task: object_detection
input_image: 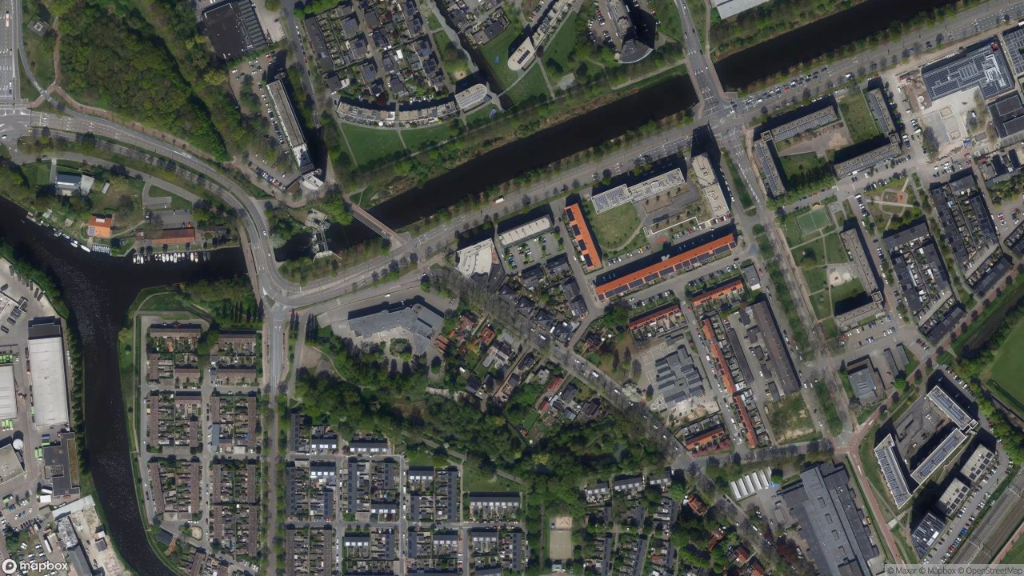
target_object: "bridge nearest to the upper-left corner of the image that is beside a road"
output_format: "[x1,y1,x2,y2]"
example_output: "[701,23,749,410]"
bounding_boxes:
[238,240,278,281]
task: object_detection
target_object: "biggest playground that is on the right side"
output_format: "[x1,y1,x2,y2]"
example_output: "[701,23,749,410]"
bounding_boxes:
[828,264,853,285]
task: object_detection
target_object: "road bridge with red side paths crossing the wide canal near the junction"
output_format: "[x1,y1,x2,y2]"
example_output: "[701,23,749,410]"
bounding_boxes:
[684,54,739,112]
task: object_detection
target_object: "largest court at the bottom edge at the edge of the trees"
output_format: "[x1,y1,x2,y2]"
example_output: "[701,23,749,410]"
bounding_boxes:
[549,529,573,560]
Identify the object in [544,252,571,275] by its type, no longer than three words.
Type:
house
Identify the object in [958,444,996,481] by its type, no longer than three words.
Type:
building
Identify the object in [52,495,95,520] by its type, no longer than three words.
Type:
shed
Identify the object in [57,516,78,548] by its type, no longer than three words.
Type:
shed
